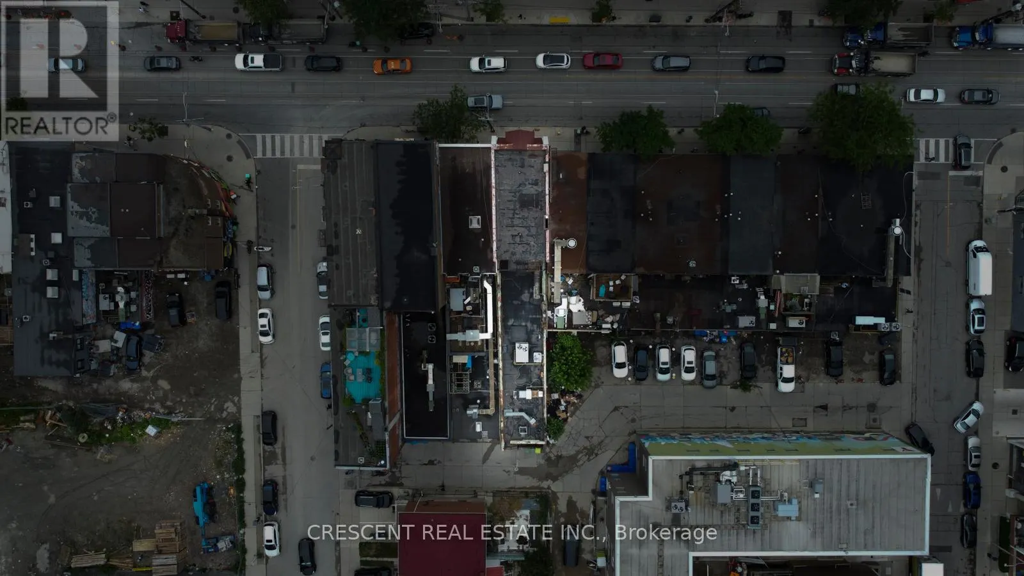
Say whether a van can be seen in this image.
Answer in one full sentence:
Yes, the picture does show a van.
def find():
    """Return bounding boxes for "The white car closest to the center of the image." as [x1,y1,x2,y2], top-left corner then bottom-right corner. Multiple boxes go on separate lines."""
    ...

[611,341,628,378]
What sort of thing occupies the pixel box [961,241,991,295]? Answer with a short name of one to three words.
van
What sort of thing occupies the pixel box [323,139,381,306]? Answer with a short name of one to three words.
building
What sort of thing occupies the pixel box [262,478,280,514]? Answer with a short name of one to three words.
car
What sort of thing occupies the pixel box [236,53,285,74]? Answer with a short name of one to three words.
truck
